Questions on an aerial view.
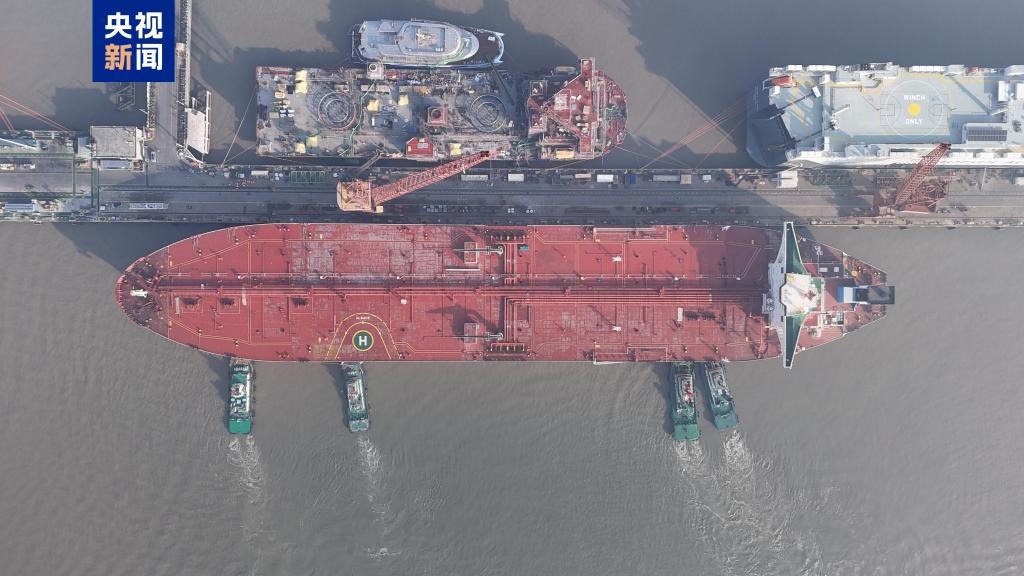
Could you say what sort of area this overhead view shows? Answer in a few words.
port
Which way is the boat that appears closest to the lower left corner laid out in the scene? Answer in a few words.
up and down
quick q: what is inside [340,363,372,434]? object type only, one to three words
boat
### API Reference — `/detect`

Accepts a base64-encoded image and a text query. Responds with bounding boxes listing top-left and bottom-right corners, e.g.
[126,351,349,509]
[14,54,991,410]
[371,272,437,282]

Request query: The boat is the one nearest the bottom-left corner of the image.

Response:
[223,359,257,434]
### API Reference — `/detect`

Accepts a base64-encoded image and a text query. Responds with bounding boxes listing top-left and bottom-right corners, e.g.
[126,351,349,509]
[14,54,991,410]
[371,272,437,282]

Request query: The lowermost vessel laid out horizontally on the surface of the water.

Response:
[114,220,893,369]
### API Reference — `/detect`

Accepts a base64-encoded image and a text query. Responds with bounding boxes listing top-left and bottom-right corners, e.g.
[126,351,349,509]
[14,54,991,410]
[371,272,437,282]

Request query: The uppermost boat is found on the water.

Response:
[353,19,505,68]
